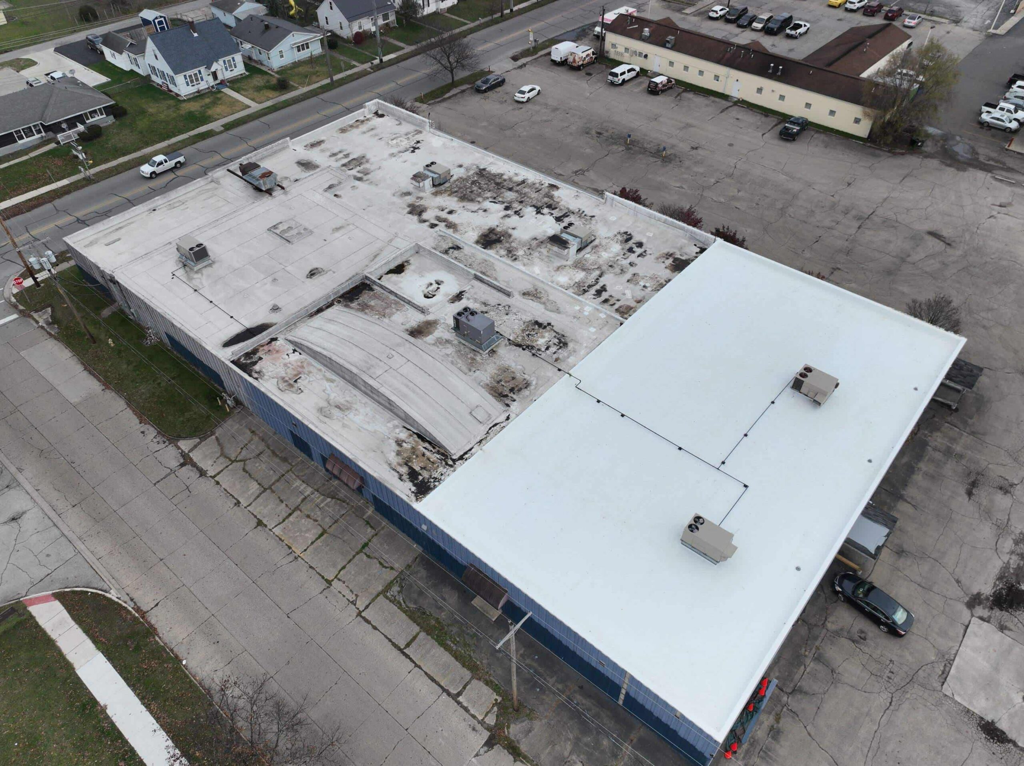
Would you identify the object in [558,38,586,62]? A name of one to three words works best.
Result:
vehicle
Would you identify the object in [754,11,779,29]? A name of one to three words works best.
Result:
car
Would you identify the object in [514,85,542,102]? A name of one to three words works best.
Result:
car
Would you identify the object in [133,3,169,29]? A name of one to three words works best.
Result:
shed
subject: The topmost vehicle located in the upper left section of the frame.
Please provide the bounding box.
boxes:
[85,35,104,53]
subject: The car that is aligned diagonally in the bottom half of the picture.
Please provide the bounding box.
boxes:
[826,566,923,642]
